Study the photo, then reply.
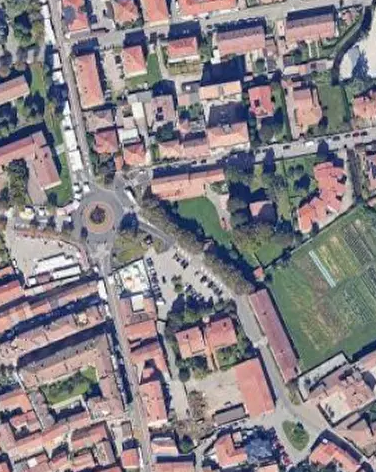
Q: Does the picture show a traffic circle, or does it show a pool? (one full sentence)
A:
Visible in the photo is a traffic circle.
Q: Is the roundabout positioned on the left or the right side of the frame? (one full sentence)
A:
The roundabout sits on the left side.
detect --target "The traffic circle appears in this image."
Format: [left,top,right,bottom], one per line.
[72,189,126,243]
